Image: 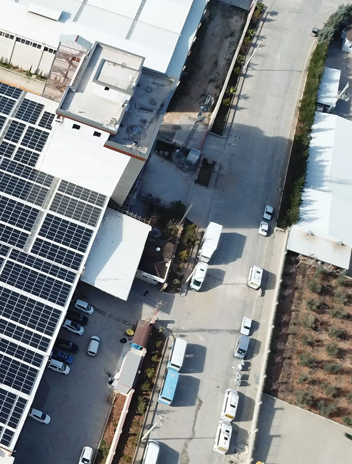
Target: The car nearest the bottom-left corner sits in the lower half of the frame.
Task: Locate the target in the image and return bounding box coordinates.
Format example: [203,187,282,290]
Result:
[27,408,52,426]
